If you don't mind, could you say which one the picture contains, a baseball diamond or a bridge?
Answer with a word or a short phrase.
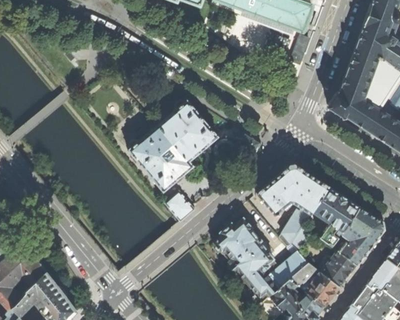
bridge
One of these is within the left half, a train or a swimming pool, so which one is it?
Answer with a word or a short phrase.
train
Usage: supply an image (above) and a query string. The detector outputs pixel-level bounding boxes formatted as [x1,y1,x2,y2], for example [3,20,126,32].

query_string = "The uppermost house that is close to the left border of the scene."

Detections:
[0,254,42,290]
